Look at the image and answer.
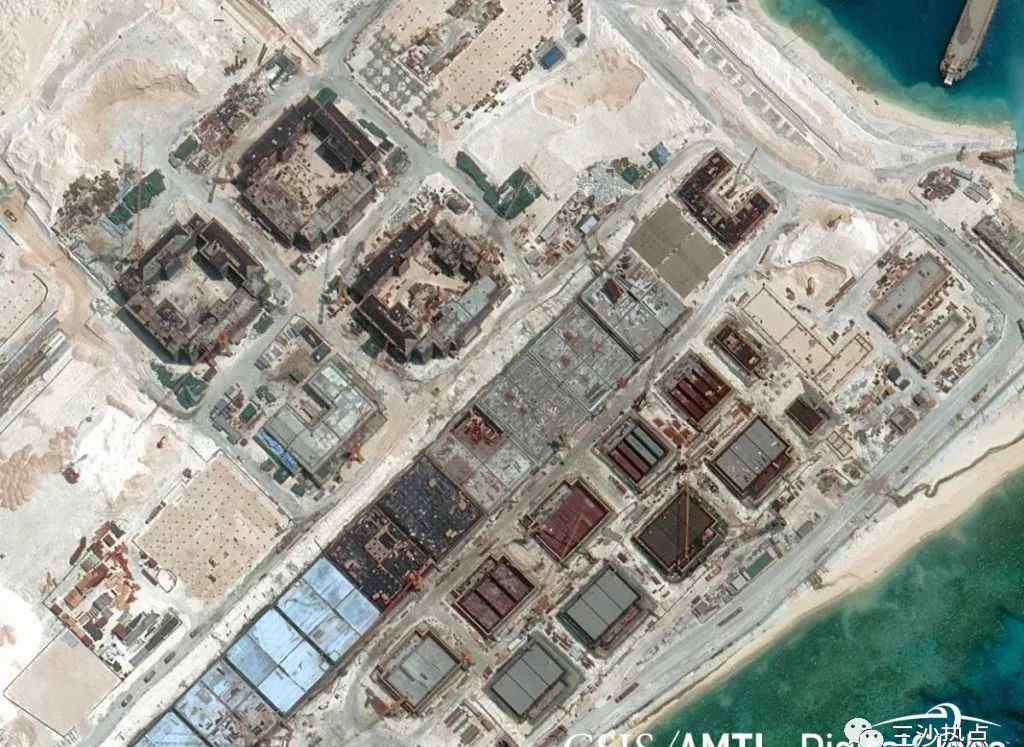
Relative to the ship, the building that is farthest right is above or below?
below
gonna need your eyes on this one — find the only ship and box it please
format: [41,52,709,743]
[940,0,999,87]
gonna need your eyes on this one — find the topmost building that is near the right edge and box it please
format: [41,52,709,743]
[972,216,1024,294]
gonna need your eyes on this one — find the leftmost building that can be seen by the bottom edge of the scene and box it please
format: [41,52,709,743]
[380,637,462,715]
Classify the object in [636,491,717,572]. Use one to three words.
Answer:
building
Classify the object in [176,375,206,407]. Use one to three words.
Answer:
shed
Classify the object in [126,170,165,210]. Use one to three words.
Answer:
shed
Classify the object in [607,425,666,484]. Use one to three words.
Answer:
building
